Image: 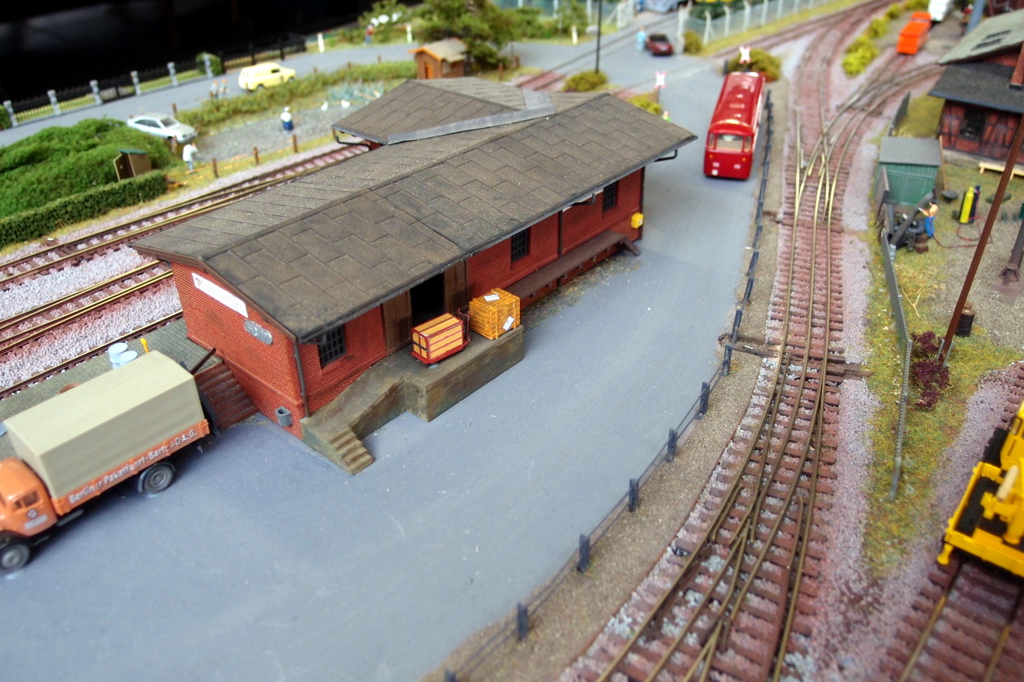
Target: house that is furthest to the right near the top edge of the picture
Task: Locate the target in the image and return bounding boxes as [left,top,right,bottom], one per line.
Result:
[936,5,1024,184]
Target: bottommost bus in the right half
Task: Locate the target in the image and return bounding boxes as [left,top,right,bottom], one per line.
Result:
[706,75,768,177]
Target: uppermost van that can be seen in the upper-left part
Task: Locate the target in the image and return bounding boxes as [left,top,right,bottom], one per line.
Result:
[230,58,298,92]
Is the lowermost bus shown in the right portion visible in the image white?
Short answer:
No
